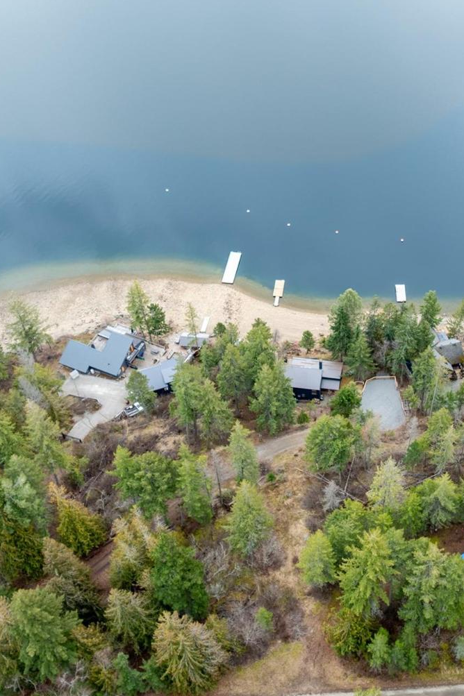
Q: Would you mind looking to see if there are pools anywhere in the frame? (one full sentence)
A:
No, no pool is visible in the view.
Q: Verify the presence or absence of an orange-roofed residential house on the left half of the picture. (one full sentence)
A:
No, no orange-roofed residential house appears on the left half of the picture.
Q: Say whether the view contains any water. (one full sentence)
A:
Yes, there's water in this view.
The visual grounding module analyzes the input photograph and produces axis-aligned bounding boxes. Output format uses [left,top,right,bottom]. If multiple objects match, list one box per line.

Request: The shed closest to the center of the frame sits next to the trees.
[180,333,209,355]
